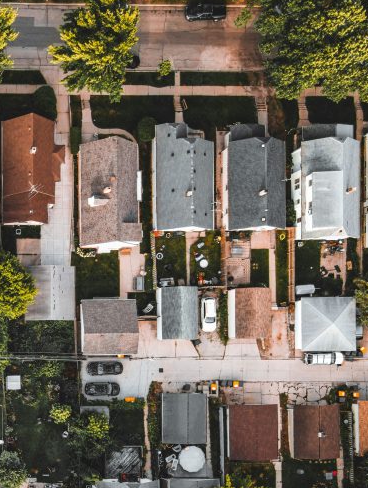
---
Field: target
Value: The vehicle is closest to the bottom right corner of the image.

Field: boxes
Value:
[304,351,343,368]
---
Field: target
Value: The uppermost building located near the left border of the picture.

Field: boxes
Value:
[1,113,65,233]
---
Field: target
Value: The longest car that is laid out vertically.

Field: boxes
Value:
[200,297,218,333]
